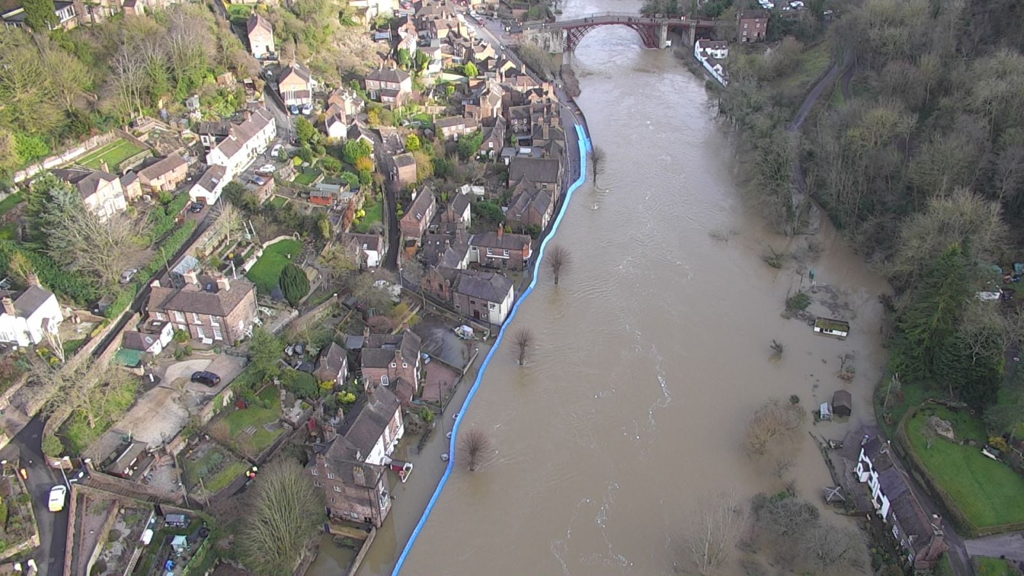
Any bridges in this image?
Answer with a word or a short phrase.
Yes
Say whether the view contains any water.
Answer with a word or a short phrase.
Yes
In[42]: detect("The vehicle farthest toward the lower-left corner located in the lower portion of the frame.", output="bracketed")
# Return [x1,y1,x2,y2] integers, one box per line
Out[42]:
[38,482,71,511]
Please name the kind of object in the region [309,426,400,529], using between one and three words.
house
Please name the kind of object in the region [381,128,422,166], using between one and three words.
building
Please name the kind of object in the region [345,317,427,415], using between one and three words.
house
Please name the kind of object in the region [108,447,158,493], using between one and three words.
shed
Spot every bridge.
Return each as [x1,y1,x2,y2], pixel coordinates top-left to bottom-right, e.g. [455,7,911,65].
[517,10,733,60]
